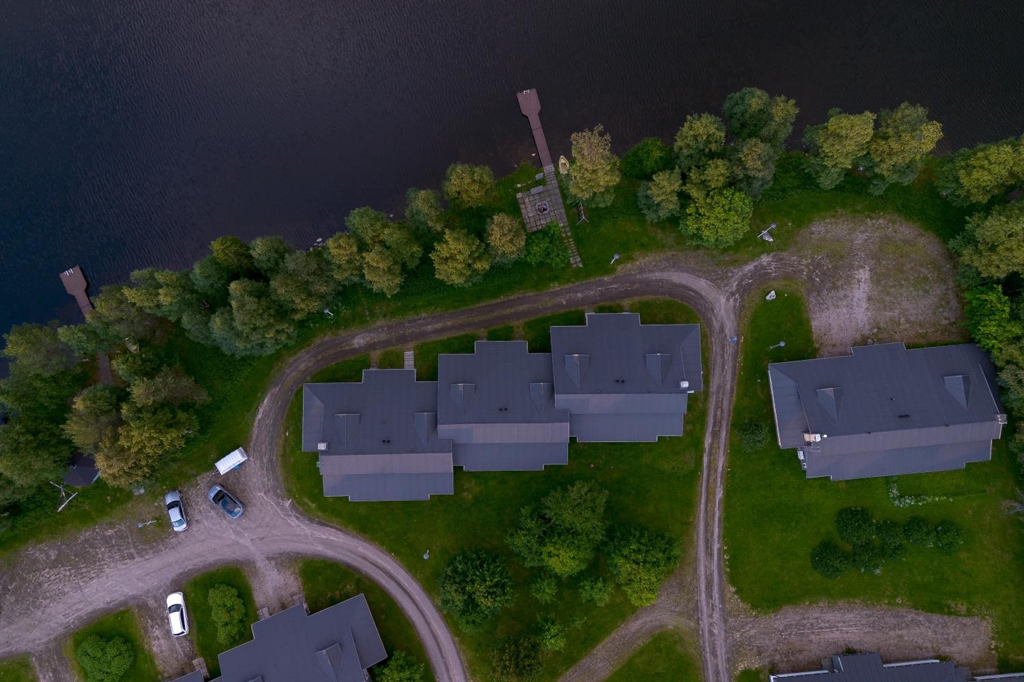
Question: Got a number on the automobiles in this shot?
3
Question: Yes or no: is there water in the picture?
Yes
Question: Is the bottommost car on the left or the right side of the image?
left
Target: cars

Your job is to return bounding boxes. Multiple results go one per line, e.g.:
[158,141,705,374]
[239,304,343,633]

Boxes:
[165,489,191,534]
[209,483,248,521]
[164,589,193,640]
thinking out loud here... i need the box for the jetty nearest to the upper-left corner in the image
[59,265,102,328]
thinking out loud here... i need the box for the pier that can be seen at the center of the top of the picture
[517,85,552,168]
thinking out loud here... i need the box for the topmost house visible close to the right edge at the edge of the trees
[769,342,1008,480]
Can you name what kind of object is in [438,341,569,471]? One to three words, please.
house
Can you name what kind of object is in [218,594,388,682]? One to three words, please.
house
